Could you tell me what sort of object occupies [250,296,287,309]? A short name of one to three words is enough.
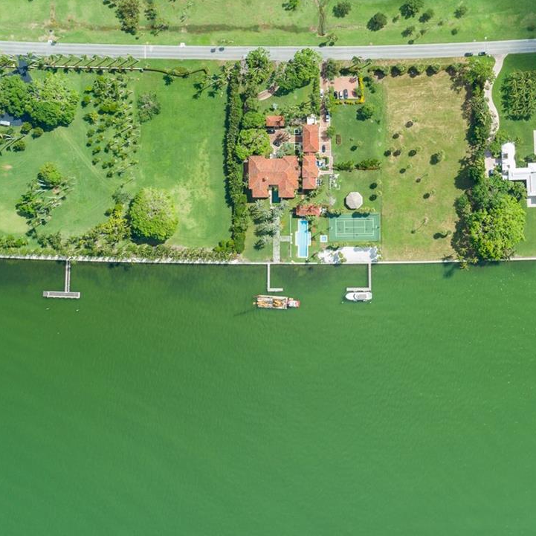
ship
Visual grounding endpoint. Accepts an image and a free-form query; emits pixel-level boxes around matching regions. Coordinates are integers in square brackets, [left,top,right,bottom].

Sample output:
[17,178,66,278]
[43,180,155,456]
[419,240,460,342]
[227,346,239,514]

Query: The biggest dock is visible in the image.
[43,262,79,299]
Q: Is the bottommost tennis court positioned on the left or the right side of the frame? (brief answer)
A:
right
